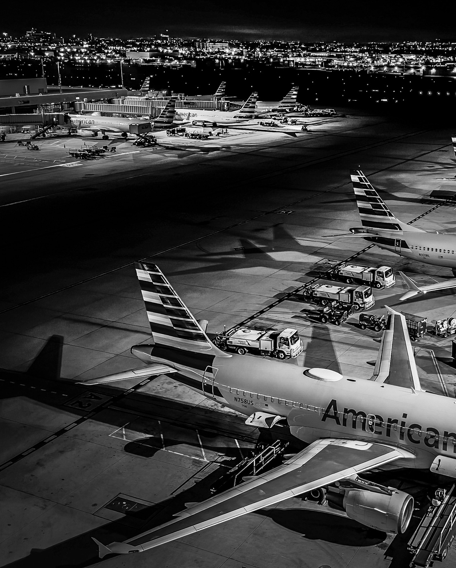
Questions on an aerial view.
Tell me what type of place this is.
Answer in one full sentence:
It's an airport.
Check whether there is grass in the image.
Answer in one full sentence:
No, there's no grass in this view.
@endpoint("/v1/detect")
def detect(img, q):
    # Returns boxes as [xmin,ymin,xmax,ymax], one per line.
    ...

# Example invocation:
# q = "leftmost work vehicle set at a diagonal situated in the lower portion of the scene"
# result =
[194,422,285,499]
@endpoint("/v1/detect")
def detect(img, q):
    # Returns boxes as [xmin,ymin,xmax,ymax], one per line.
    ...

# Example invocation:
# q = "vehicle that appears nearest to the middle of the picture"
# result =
[222,314,301,359]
